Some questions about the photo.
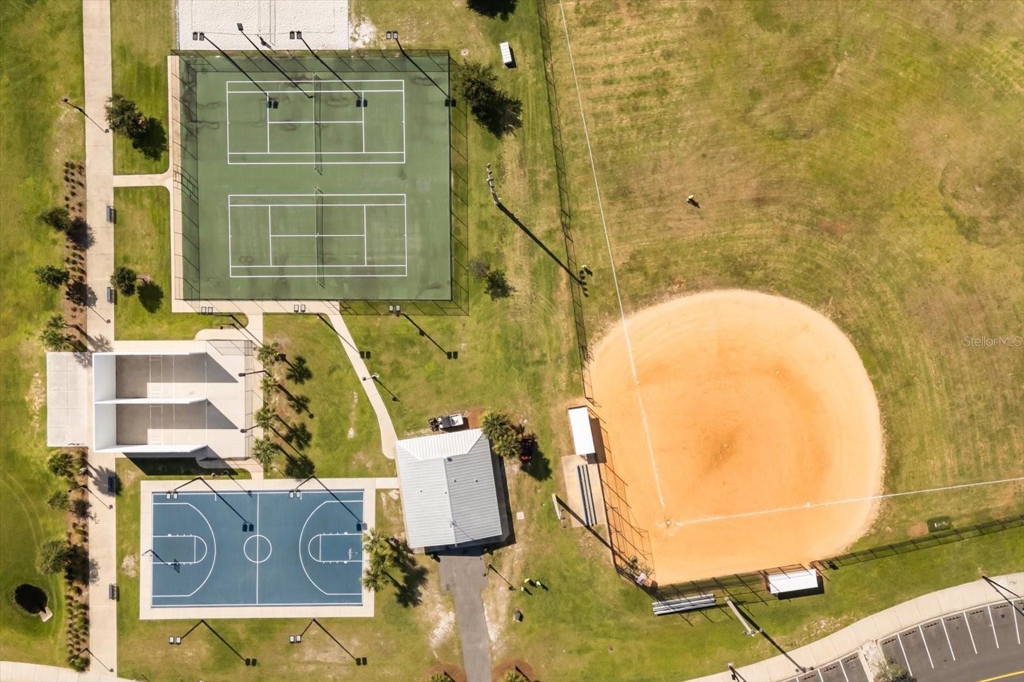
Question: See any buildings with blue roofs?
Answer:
No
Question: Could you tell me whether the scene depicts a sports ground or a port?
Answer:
sports ground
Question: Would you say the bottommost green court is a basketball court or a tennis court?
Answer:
tennis court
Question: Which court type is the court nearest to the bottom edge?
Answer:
basketball court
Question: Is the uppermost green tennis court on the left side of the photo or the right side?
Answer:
left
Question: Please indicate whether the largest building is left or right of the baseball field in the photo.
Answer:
on its left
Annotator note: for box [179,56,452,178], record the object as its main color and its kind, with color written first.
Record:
green tennis court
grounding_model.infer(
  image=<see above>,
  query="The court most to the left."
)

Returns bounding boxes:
[93,340,252,459]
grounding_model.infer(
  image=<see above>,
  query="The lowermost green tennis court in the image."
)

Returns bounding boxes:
[181,178,453,300]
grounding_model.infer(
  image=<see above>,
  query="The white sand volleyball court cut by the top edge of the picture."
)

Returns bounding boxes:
[176,0,350,49]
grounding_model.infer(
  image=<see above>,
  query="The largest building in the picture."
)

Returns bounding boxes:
[396,429,502,548]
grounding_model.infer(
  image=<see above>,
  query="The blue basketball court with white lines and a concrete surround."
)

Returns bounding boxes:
[151,490,363,608]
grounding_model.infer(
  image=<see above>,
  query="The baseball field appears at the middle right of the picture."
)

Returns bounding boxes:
[541,0,1024,590]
